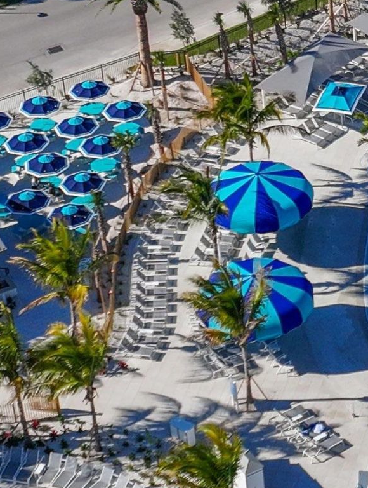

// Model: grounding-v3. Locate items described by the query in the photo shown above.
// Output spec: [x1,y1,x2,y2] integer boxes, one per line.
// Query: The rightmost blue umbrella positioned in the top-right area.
[312,81,368,131]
